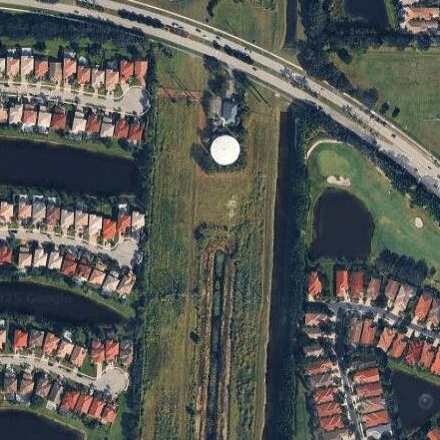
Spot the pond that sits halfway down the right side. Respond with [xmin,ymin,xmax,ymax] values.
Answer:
[311,187,375,260]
